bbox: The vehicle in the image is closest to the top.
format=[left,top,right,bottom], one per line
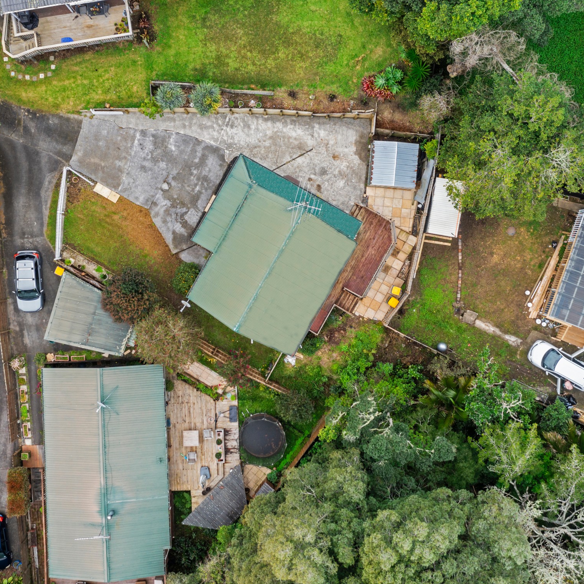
[11,250,43,312]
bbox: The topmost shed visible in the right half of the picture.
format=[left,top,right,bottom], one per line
[369,140,419,190]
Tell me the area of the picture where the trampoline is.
bottom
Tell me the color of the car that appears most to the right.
white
